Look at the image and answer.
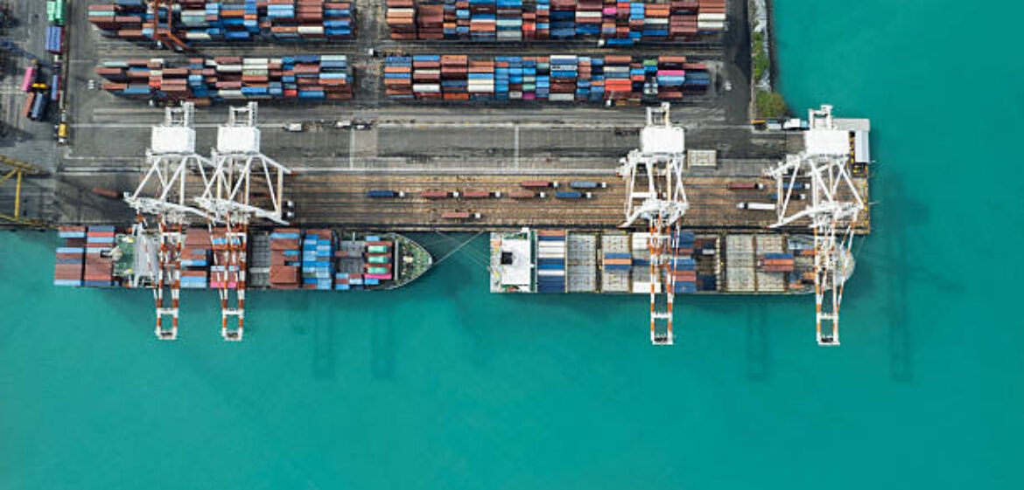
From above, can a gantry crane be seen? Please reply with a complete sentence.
Yes, this view includes a gantry crane.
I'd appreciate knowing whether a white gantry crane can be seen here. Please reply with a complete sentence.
Yes, this view includes a white gantry crane.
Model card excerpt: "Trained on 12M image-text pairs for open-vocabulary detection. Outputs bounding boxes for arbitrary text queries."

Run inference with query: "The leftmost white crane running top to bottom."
[128,101,244,341]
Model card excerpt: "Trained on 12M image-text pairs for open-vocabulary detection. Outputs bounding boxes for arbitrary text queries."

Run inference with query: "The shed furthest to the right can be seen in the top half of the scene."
[856,130,873,162]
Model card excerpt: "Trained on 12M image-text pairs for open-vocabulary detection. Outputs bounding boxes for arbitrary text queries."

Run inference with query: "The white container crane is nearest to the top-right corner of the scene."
[759,106,869,346]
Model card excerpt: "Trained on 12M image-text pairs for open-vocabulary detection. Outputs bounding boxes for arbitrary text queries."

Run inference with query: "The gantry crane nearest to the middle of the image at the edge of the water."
[615,105,690,345]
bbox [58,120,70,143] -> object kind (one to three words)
vehicle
